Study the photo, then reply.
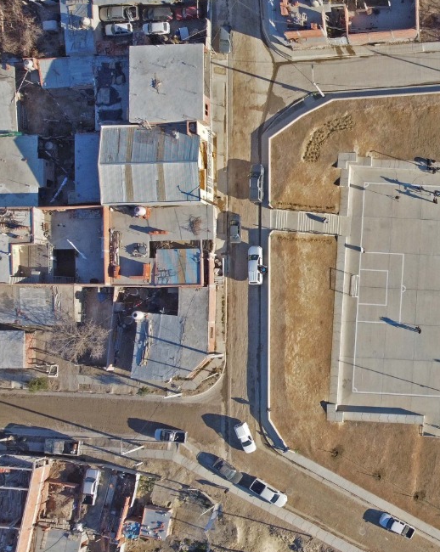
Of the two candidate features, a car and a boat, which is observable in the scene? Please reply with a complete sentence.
The image shows a car.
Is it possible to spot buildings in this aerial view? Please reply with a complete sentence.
Yes, the image includes a building.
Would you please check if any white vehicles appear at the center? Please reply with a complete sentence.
Yes, I can see a white vehicle at the center.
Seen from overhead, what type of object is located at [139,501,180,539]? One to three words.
house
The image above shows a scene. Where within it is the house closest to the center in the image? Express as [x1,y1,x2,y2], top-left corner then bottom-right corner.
[154,248,204,284]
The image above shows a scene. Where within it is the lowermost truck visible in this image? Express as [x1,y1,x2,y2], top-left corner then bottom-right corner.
[376,511,418,540]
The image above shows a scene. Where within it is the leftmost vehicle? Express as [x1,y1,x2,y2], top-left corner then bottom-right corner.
[44,437,84,454]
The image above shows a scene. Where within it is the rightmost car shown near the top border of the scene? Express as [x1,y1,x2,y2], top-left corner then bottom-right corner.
[217,24,233,54]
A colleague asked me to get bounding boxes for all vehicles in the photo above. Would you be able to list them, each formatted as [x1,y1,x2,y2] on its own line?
[247,246,265,284]
[152,427,189,444]
[217,24,233,54]
[376,511,418,540]
[99,5,139,22]
[233,418,257,456]
[248,163,266,204]
[142,20,171,37]
[226,213,242,242]
[44,437,84,454]
[82,466,103,505]
[170,3,201,20]
[208,455,246,485]
[104,21,134,38]
[248,476,290,507]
